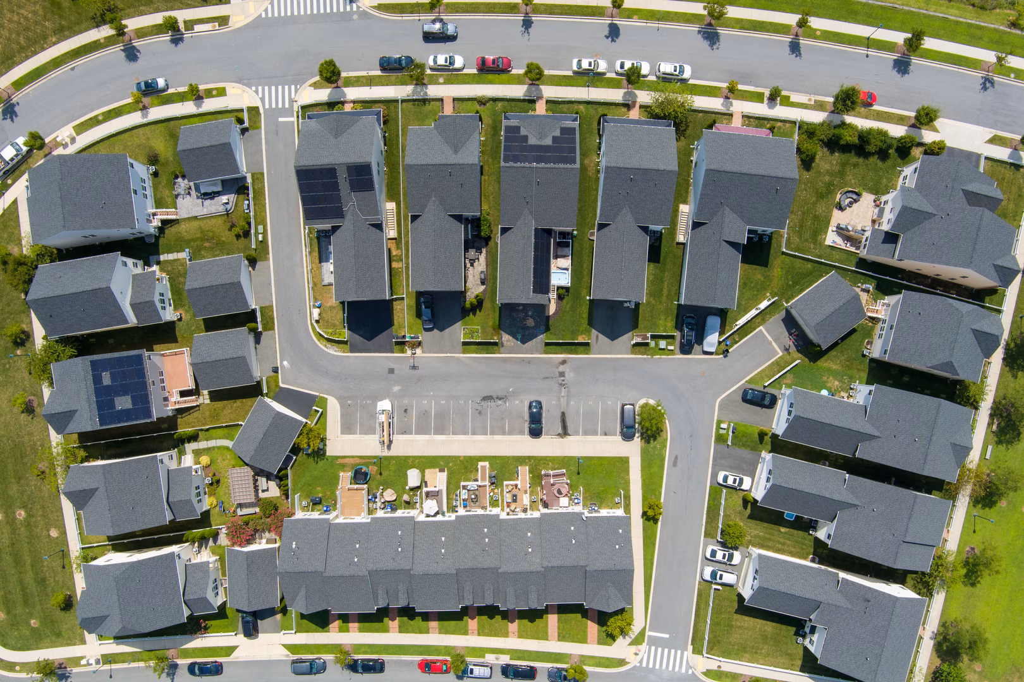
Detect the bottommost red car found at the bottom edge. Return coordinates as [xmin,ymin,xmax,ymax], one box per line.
[418,658,451,676]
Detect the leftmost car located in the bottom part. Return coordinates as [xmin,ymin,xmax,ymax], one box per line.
[189,659,224,677]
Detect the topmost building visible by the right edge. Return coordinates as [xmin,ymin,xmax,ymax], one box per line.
[849,155,1024,286]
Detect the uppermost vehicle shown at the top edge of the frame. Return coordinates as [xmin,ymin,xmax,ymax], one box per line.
[422,20,458,40]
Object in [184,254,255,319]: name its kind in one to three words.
building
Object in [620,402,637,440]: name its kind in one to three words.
vehicle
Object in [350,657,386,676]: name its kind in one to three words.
car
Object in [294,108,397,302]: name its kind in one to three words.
house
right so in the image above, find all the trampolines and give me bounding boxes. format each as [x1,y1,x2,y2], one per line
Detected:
[353,466,370,483]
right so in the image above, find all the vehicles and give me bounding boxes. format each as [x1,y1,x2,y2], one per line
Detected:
[376,395,394,439]
[527,400,544,436]
[501,662,536,681]
[0,137,35,175]
[656,62,691,80]
[418,658,451,676]
[620,402,637,440]
[704,546,740,565]
[476,54,512,72]
[429,52,464,70]
[350,657,386,676]
[189,659,224,677]
[422,20,458,40]
[855,88,880,107]
[379,53,414,71]
[419,294,436,330]
[679,315,698,351]
[615,59,649,77]
[716,471,751,490]
[134,76,171,95]
[291,657,327,676]
[544,665,571,682]
[572,57,607,75]
[240,611,259,642]
[700,565,738,586]
[740,389,776,406]
[459,661,495,680]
